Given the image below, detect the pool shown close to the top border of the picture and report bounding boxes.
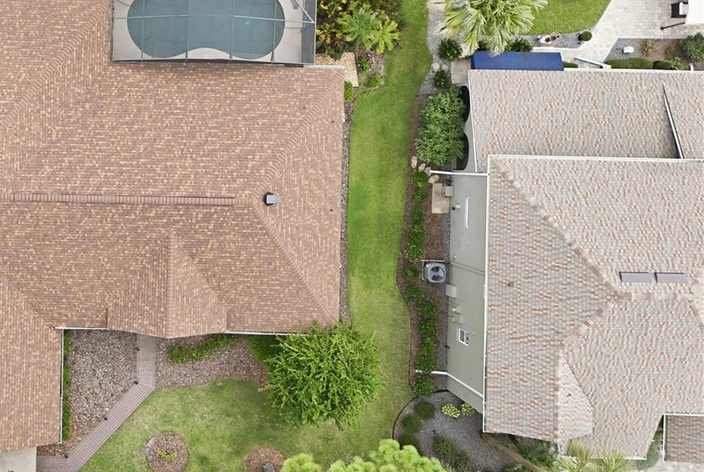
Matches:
[115,0,299,62]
